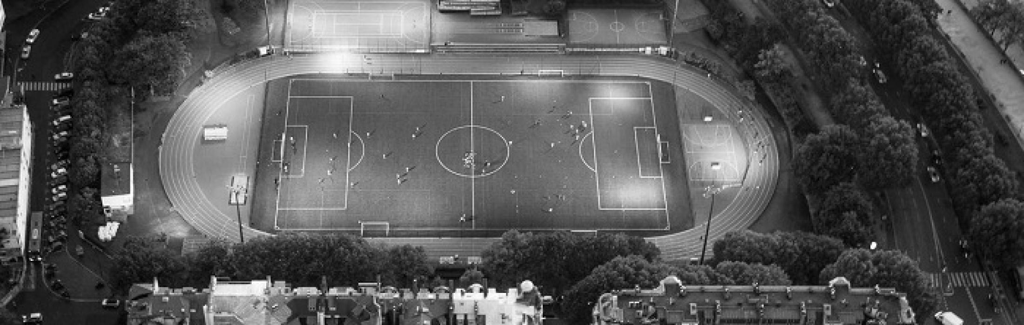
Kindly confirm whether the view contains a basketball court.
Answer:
Yes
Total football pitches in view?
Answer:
1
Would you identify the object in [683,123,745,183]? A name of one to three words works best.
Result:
basketball court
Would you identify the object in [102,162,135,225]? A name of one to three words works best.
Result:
building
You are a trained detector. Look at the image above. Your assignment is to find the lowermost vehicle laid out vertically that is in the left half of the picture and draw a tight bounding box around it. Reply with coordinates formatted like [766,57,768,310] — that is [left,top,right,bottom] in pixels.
[27,206,42,262]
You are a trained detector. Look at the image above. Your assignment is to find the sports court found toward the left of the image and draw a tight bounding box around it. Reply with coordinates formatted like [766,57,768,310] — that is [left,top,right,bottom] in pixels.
[280,0,431,50]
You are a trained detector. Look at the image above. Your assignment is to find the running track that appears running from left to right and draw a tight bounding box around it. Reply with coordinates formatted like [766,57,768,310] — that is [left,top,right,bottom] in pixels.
[161,53,778,263]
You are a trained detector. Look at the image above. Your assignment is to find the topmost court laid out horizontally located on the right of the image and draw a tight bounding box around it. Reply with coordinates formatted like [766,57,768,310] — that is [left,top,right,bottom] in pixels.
[566,8,669,46]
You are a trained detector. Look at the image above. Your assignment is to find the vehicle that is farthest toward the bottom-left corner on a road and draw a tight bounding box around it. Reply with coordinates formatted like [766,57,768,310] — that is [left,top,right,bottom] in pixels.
[20,311,43,323]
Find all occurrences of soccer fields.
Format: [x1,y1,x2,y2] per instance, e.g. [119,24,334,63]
[250,72,696,238]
